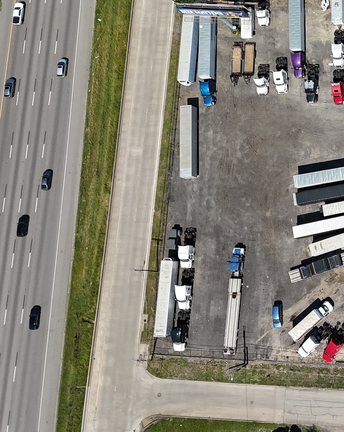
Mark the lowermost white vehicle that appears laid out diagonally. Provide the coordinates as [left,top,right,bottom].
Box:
[298,322,331,357]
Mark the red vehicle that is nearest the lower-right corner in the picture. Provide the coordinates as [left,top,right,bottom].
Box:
[323,324,344,363]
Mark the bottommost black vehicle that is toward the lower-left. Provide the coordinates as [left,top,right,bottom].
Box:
[28,306,41,329]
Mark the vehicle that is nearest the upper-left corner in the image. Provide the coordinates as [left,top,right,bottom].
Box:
[12,3,25,26]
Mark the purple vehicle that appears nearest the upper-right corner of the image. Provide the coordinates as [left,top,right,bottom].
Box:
[290,52,305,79]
